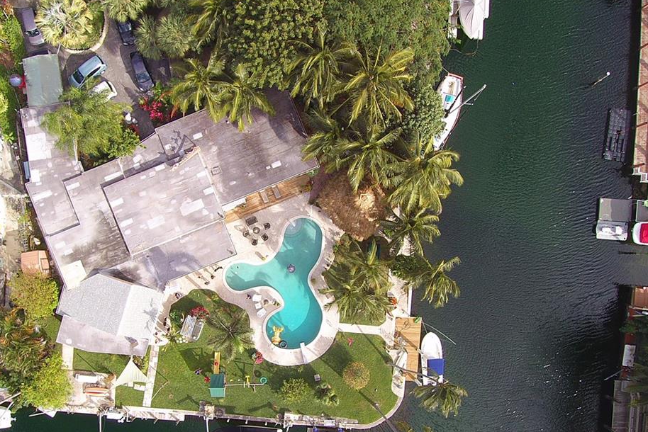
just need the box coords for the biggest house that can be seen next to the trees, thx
[20,90,319,356]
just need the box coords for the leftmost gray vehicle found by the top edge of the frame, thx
[17,4,45,48]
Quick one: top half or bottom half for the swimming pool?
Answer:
bottom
